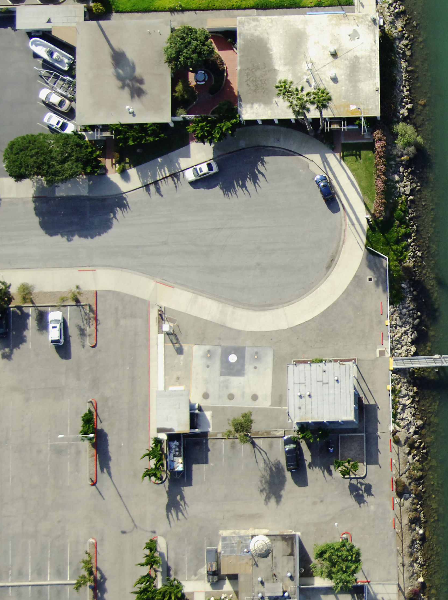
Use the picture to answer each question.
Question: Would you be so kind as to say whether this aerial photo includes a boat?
Yes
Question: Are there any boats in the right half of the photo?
No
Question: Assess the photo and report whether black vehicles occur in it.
Yes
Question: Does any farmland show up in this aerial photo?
No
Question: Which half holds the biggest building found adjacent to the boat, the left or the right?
left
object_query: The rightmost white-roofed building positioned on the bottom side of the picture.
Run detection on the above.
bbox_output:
[286,360,360,429]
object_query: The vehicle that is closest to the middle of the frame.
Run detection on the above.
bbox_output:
[186,162,221,183]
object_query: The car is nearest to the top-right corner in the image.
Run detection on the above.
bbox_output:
[316,173,335,203]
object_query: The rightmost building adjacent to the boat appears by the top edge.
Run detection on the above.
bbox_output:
[76,18,174,127]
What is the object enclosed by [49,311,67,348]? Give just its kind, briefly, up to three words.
car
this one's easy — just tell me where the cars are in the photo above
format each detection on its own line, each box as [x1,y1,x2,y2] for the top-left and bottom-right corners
[40,89,74,114]
[49,311,67,348]
[283,435,300,473]
[43,112,77,137]
[186,162,221,183]
[316,173,335,203]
